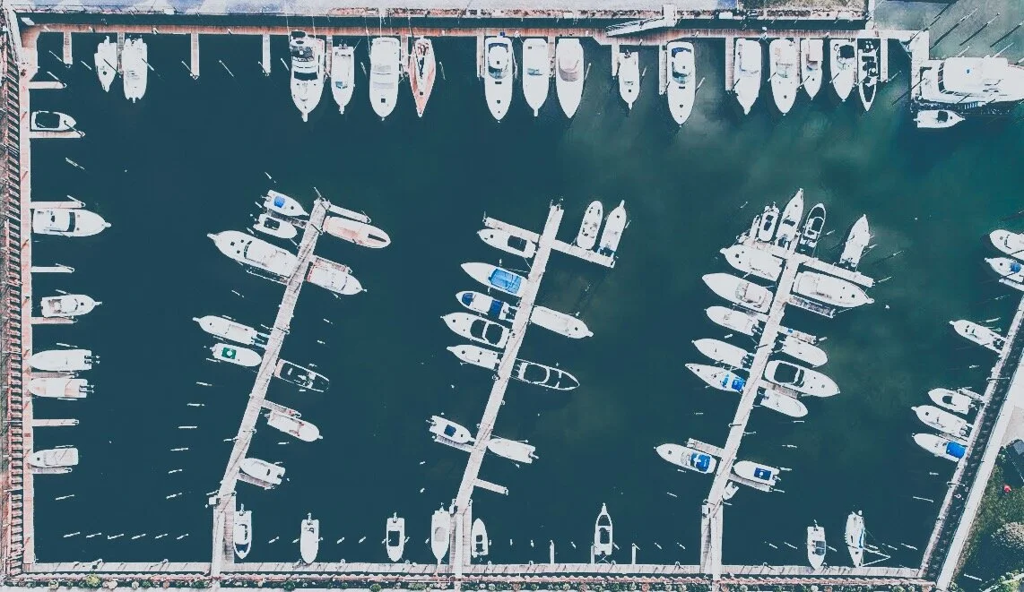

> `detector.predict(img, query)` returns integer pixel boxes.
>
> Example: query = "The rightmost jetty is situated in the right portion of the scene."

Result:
[920,278,1024,577]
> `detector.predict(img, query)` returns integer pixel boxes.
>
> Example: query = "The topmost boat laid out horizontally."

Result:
[908,54,1024,111]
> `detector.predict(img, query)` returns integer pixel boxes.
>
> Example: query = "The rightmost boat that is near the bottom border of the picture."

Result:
[843,504,888,567]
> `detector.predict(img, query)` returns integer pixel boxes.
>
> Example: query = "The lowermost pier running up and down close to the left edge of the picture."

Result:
[18,47,87,563]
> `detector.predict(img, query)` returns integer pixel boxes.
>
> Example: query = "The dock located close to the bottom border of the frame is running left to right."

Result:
[23,537,921,575]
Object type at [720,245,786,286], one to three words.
boat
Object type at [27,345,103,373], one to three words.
boat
